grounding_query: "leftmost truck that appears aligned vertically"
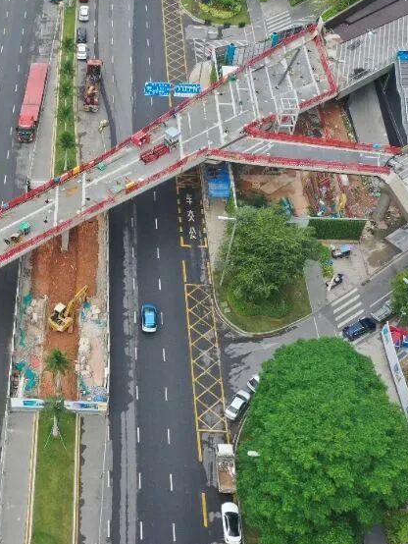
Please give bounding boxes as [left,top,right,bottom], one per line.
[17,62,45,146]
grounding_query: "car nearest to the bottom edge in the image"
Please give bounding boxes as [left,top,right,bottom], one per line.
[218,502,243,544]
